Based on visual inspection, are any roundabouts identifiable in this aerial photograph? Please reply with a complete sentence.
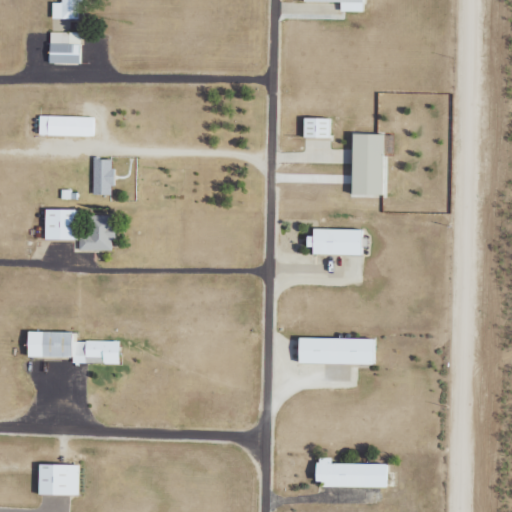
No, I find no roundabout anywhere in the image.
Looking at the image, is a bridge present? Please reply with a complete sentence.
No, the photo shows no bridge.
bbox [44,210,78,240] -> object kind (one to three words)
hangar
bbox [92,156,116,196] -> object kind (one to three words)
house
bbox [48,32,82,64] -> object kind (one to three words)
building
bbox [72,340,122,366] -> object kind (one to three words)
house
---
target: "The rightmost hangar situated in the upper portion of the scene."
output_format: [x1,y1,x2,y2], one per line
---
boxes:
[352,132,389,197]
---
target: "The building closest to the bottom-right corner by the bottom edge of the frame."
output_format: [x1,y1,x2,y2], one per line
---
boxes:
[316,458,395,488]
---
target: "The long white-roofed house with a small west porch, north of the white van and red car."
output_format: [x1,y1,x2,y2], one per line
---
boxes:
[306,228,364,254]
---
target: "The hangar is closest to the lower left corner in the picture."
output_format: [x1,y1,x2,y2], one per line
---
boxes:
[38,464,80,496]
